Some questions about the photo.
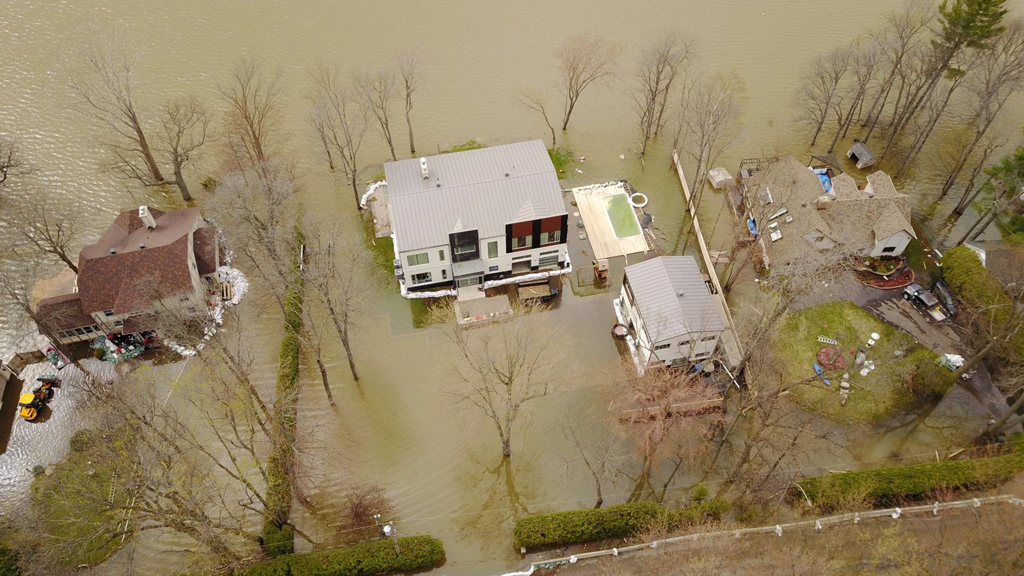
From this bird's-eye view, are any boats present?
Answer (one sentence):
Yes, a boat appears in the view.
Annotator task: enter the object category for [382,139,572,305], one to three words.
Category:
house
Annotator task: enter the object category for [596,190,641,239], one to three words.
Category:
swimming pool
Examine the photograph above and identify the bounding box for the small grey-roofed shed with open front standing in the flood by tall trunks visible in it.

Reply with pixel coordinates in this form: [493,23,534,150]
[848,143,881,171]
